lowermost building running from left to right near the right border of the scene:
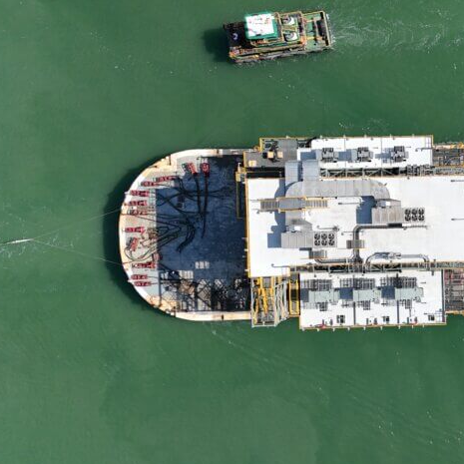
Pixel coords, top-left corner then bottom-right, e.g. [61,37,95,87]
[299,270,447,333]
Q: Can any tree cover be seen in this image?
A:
No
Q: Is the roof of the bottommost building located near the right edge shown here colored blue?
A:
No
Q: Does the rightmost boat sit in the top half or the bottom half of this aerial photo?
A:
top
